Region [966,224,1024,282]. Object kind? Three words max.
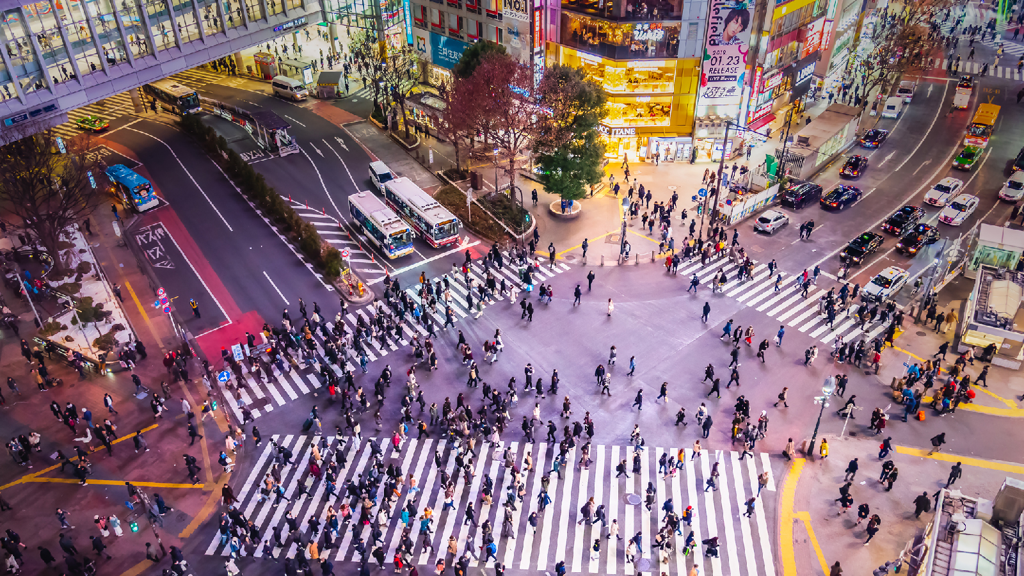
building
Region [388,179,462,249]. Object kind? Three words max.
bus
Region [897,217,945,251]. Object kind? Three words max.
car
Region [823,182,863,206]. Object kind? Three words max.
car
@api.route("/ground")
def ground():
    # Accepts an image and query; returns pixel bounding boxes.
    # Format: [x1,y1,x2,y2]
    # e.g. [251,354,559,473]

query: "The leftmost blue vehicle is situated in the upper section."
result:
[105,160,160,212]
